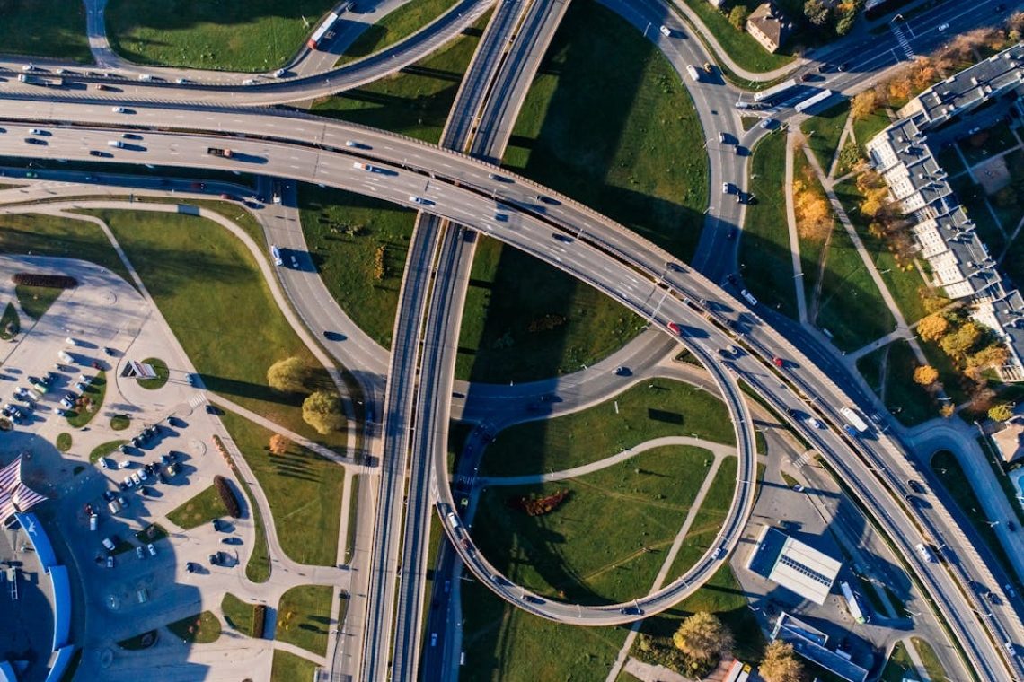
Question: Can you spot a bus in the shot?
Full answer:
Yes, I can see a bus in this picture.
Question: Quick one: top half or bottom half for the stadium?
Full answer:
The stadium sits in the bottom half of the picture.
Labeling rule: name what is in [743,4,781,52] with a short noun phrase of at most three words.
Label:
house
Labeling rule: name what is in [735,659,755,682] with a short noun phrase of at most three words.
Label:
vehicle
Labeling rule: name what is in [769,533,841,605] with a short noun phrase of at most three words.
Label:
building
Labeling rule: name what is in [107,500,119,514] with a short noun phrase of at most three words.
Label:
vehicle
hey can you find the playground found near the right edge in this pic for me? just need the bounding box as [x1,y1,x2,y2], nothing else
[973,156,1011,195]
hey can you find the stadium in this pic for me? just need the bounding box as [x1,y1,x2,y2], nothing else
[0,488,78,682]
